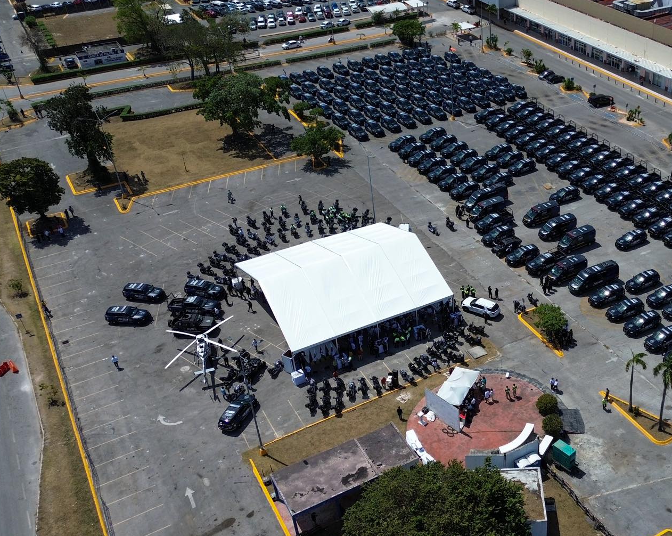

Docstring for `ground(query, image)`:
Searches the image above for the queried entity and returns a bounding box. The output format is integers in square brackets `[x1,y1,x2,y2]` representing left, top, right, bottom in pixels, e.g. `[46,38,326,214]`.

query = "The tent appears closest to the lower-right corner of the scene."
[233,221,458,357]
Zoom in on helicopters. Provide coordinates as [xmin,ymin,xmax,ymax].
[162,315,239,386]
